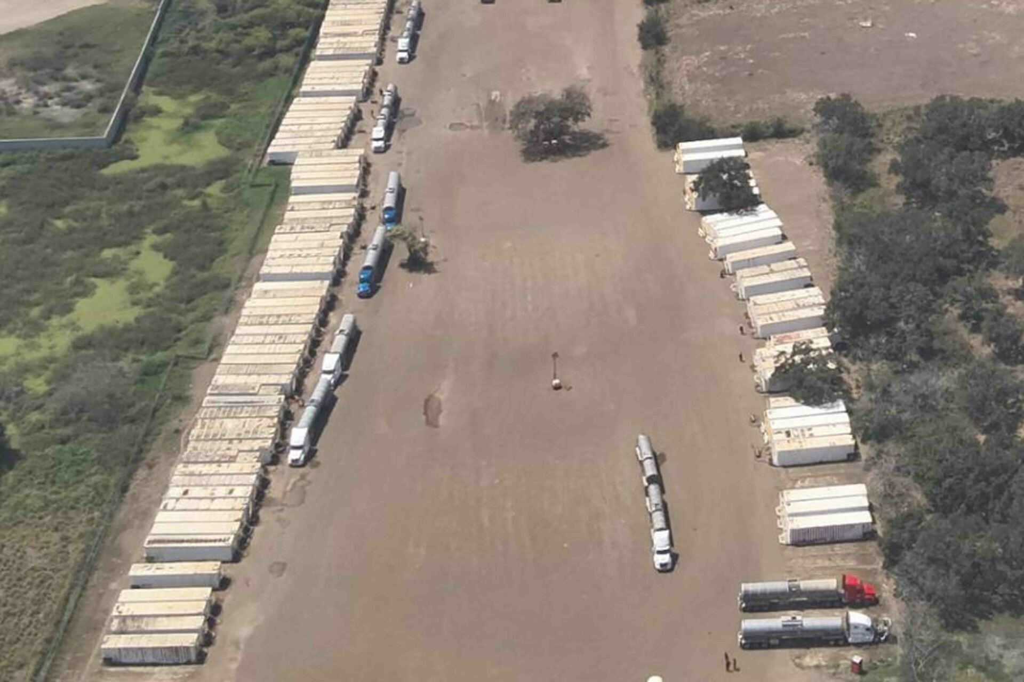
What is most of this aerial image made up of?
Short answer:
paved ground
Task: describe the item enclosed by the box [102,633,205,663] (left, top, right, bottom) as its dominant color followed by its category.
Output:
white trailer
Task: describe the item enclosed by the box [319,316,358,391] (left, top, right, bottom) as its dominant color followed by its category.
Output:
white truck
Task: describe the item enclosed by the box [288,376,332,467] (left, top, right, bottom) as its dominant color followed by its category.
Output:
white truck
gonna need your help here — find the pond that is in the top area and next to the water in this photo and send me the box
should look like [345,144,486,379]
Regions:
[0,86,242,401]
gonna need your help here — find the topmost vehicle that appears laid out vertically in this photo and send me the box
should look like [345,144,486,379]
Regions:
[397,0,421,63]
